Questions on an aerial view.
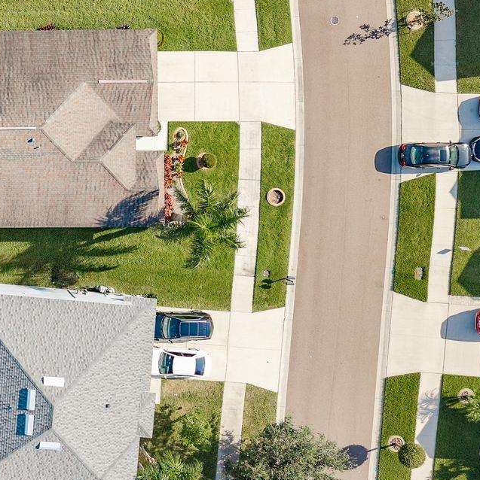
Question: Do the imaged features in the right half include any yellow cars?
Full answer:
No, I can find no yellow car in the right half.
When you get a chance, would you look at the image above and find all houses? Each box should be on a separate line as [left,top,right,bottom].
[0,29,166,228]
[0,281,158,480]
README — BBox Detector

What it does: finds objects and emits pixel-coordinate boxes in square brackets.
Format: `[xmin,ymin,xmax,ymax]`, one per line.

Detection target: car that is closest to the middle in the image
[153,309,216,345]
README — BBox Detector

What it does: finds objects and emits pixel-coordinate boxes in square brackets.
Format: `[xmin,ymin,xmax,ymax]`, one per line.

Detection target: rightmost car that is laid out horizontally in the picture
[396,139,468,174]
